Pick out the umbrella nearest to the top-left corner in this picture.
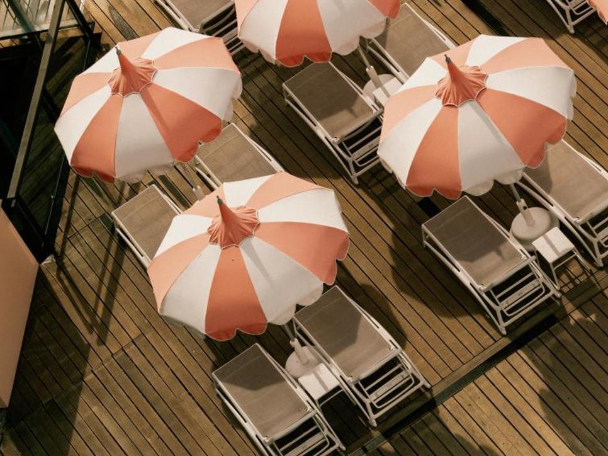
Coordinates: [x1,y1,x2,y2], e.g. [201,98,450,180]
[52,22,242,201]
